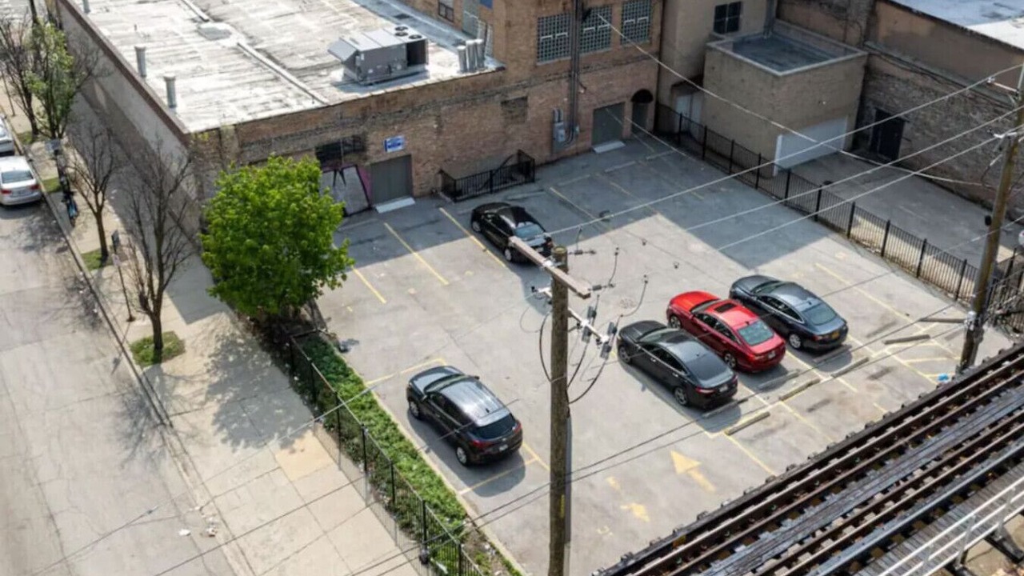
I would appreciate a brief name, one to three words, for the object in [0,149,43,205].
car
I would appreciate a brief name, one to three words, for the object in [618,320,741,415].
car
